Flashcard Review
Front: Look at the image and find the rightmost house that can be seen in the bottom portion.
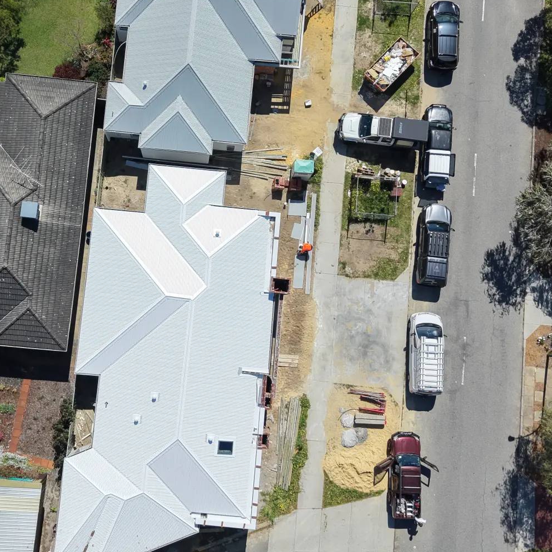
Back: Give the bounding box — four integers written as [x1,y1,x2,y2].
[52,163,289,552]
